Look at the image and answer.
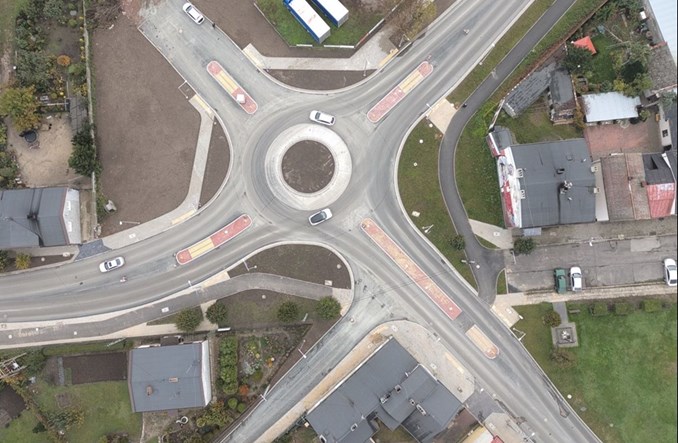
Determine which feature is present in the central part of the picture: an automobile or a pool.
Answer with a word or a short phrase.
automobile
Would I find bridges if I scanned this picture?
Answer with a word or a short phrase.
No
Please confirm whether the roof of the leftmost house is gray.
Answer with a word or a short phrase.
Yes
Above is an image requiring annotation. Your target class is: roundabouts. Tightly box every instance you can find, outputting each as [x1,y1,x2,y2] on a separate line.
[265,123,351,210]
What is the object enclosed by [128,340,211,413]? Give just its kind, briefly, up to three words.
house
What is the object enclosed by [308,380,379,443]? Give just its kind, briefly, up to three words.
building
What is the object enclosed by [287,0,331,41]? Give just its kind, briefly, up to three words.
trailer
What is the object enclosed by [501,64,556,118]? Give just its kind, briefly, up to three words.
shed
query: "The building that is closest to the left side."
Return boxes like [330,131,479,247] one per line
[0,190,42,249]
